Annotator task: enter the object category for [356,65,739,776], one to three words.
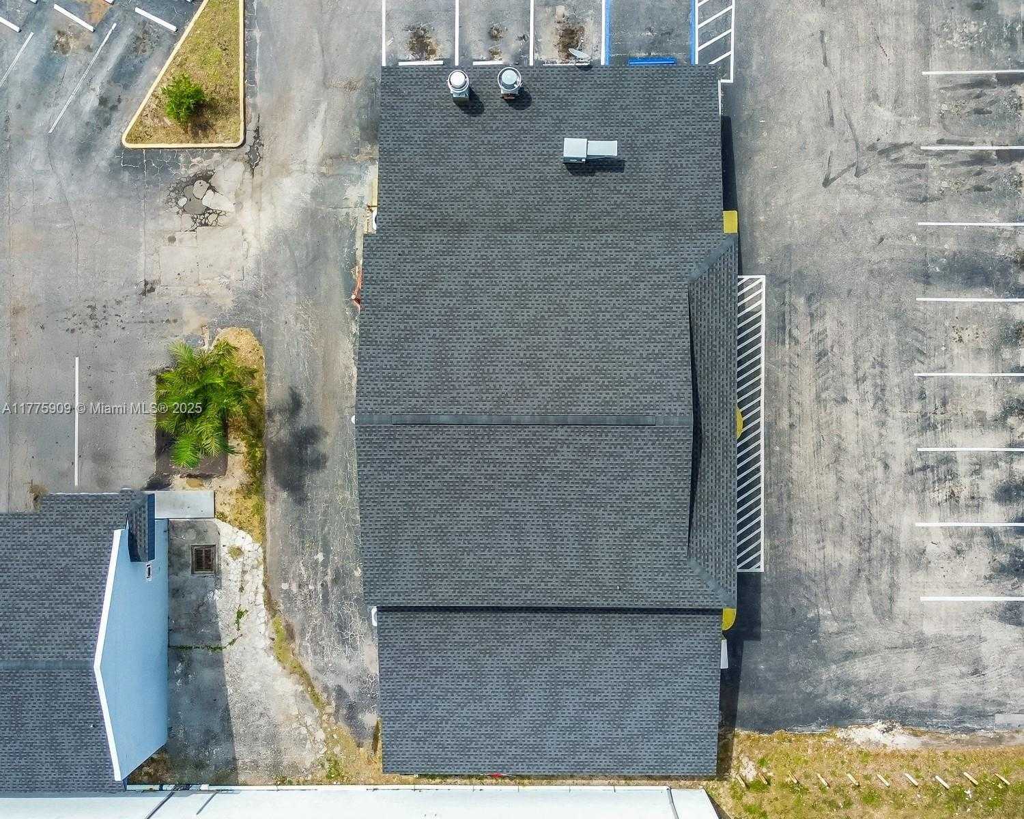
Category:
building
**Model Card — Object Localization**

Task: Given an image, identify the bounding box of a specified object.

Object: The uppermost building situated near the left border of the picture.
[0,492,168,792]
